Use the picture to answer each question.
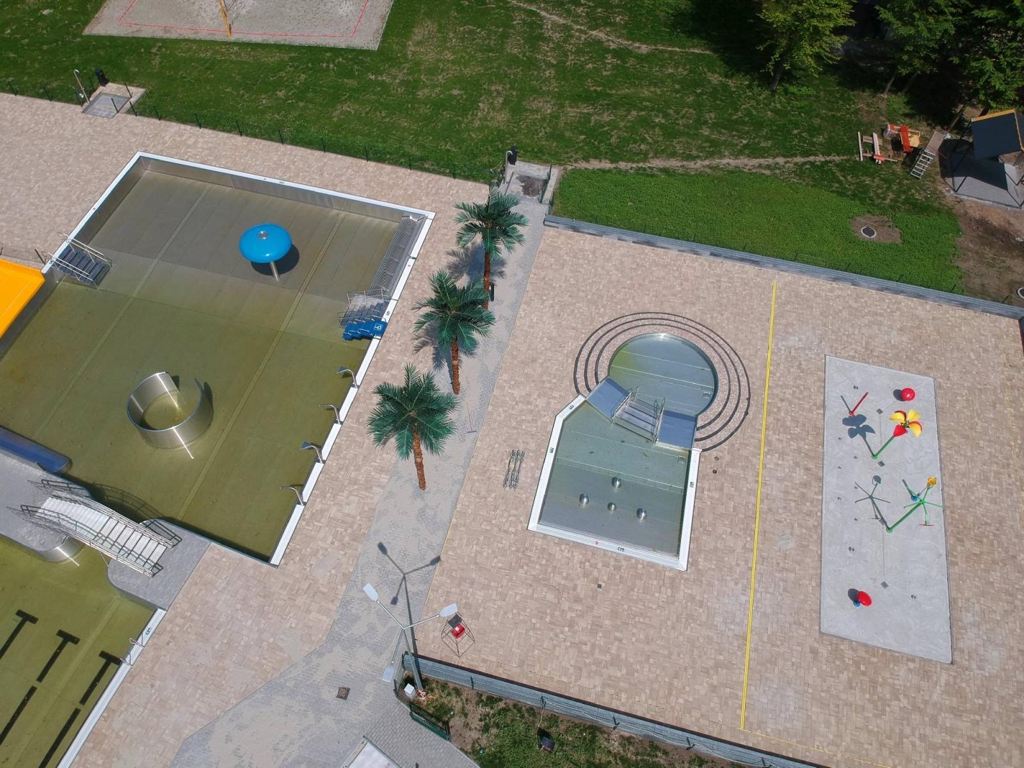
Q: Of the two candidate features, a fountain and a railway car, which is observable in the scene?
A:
fountain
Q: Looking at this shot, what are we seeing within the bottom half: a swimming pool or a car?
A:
swimming pool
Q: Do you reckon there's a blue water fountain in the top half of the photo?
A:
Yes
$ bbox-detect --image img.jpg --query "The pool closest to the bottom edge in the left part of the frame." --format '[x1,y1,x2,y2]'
[0,578,168,768]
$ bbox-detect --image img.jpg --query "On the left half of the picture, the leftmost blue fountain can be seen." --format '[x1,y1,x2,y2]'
[238,221,292,283]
